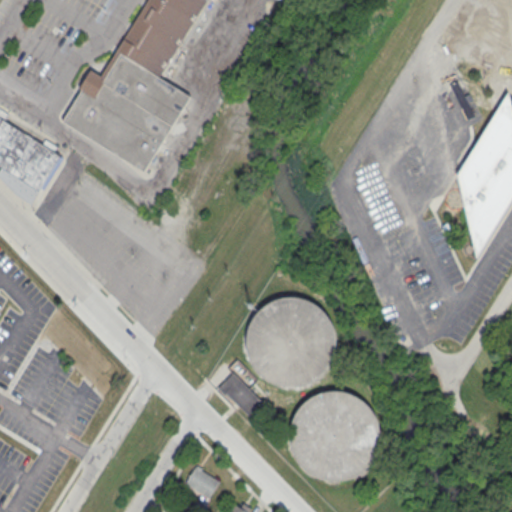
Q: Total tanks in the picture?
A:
two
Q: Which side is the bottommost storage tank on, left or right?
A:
right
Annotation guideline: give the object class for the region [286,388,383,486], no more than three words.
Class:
storage tank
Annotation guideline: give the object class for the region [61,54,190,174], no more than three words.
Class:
building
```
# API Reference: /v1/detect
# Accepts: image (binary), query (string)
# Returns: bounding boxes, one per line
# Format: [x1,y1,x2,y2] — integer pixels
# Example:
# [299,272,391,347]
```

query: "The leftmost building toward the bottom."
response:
[187,467,220,504]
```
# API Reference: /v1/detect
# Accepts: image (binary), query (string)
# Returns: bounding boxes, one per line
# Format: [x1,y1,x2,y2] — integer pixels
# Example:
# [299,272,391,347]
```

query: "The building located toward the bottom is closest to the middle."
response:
[218,372,261,416]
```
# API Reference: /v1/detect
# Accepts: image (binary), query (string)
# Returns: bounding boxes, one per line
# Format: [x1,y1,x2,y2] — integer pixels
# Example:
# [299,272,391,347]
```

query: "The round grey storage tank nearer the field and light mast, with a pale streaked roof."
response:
[244,294,339,390]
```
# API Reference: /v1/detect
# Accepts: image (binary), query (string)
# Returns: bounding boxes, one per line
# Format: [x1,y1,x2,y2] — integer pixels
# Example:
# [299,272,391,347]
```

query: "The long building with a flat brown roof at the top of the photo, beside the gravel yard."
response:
[80,0,206,96]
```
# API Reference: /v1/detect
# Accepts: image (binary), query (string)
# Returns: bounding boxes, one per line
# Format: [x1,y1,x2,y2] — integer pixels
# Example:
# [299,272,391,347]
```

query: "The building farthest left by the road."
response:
[0,116,63,189]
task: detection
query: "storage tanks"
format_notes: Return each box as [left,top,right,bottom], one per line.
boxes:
[244,294,339,390]
[286,388,383,486]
